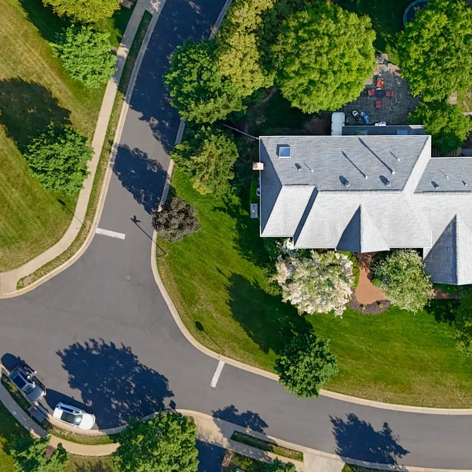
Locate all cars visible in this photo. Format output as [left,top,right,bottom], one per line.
[51,403,95,430]
[7,365,45,403]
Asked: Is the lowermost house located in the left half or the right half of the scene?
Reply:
right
